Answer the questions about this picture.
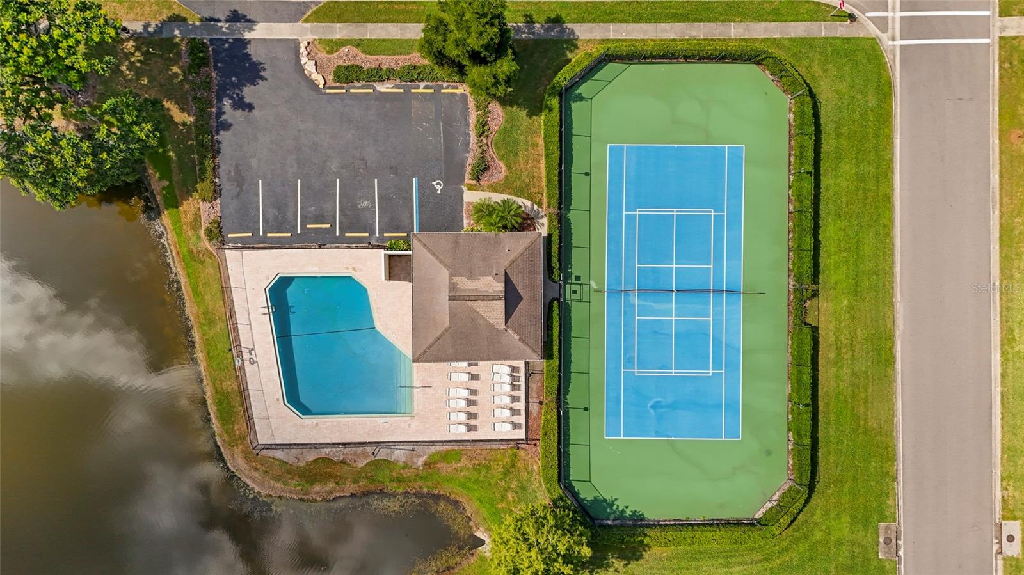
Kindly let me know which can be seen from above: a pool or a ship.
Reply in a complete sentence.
There is a pool in the scene.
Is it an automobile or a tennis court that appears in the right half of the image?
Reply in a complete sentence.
It is a tennis court that can be seen in the right half of the image.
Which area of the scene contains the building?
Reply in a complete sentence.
The building is in the center part of the image.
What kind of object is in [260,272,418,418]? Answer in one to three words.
swimming pool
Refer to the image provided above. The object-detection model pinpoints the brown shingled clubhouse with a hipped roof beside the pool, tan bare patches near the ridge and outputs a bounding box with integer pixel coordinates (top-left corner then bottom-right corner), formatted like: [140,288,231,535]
[411,231,544,364]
